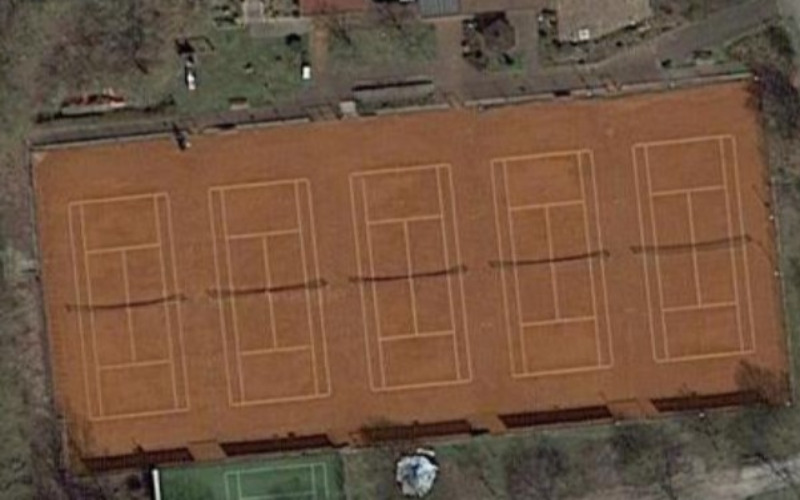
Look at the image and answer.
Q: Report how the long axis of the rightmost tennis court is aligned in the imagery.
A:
from top to bottom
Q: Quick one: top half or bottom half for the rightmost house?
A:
top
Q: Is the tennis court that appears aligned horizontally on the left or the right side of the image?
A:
left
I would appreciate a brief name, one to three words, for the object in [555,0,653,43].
house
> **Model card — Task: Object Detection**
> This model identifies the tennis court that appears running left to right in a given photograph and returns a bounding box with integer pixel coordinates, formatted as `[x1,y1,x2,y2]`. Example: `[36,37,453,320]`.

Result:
[160,457,347,500]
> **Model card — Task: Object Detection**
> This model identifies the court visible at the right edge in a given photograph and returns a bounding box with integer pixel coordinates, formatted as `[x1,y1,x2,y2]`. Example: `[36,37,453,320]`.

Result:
[627,129,760,368]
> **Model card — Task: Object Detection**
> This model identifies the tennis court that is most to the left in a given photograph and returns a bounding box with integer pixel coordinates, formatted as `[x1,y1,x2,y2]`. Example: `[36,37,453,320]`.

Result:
[62,186,195,426]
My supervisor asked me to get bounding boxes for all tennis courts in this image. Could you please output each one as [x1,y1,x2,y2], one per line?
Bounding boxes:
[344,158,477,397]
[627,129,760,368]
[62,186,195,426]
[203,172,336,412]
[160,457,347,500]
[486,143,618,383]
